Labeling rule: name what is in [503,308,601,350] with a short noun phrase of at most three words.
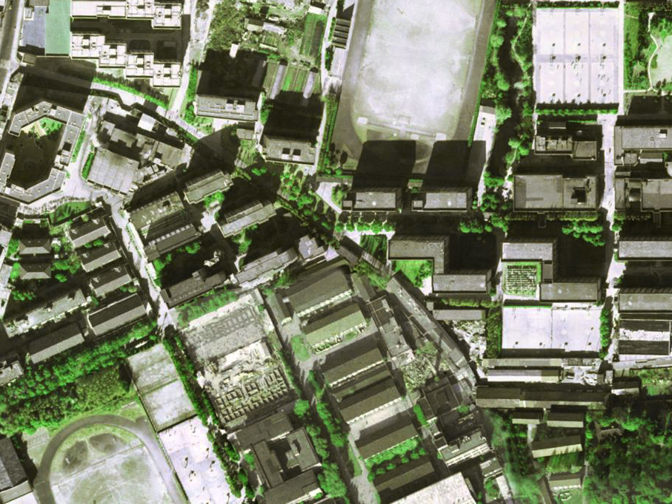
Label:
sports court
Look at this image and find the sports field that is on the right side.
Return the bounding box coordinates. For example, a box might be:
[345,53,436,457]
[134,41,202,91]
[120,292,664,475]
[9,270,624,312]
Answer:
[350,0,486,133]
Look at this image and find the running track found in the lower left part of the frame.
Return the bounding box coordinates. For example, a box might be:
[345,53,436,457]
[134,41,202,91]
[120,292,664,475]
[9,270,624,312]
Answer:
[38,414,184,504]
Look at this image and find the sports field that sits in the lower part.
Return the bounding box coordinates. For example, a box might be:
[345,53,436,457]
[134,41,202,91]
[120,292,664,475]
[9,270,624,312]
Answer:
[58,437,177,504]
